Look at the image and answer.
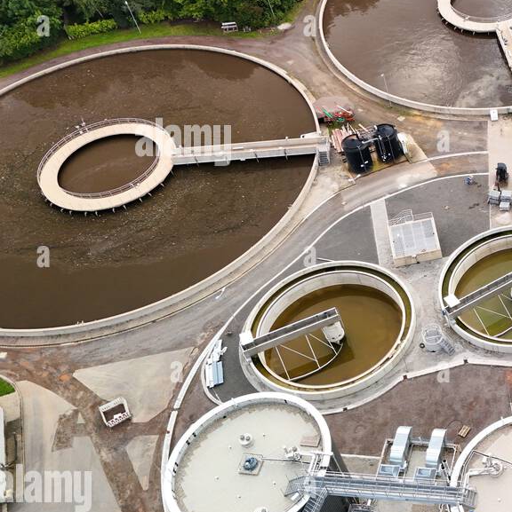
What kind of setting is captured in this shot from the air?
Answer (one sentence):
What you see here is an industrial area.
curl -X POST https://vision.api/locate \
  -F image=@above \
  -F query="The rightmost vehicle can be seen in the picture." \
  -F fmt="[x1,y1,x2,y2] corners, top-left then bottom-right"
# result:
[494,162,506,193]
